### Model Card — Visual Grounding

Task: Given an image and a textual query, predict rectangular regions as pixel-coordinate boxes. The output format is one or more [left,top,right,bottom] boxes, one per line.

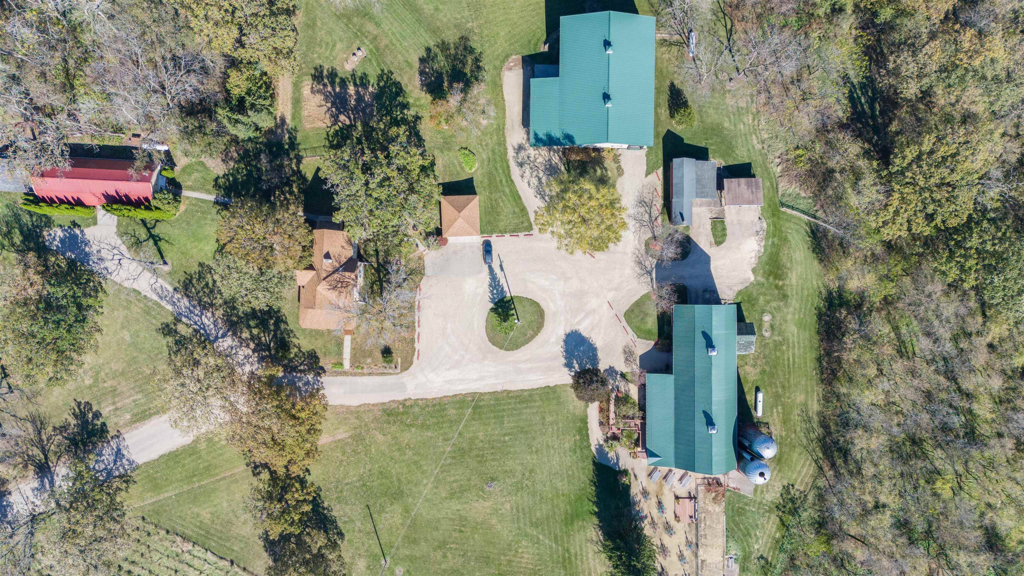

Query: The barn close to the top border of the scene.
[529,8,653,150]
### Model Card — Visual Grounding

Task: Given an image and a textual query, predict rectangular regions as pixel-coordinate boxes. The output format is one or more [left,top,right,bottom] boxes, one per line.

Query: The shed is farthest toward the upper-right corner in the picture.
[721,178,764,207]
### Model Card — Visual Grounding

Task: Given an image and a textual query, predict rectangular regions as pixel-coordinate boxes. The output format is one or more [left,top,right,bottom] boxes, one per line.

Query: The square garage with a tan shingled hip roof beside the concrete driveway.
[442,195,480,236]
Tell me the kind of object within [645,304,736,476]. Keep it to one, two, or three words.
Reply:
barn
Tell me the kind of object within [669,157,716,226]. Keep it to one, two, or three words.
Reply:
shed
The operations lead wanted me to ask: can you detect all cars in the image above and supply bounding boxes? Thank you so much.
[481,239,494,265]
